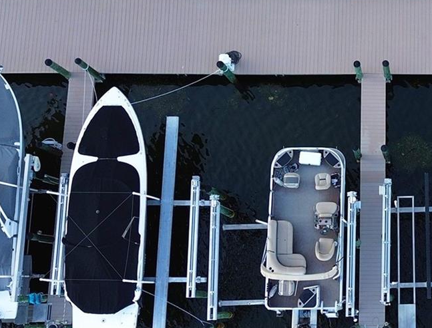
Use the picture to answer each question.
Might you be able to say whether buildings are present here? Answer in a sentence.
No, I find no building anywhere in the image.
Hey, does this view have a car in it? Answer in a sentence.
No, no car is visible in the view.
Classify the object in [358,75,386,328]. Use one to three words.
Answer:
pier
